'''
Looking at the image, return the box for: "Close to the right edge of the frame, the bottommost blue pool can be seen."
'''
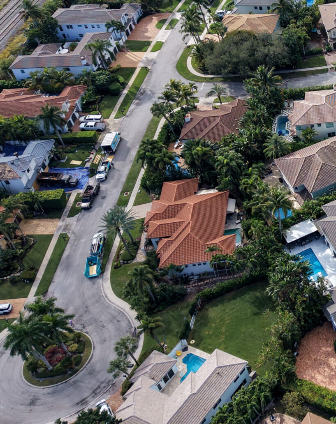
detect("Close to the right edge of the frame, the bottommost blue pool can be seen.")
[293,246,329,282]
